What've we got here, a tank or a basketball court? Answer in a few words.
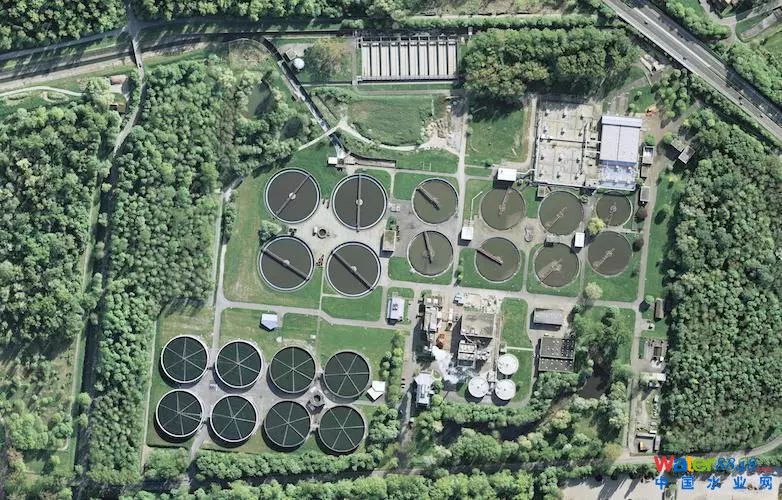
tank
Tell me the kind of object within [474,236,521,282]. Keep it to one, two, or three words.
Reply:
storage tank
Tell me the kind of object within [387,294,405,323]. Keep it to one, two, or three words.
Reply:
building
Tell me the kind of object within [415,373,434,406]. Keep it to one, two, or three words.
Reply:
house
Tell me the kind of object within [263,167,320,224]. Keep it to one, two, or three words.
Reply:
storage tank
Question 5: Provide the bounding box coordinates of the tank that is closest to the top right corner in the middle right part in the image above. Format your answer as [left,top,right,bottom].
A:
[595,190,633,227]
